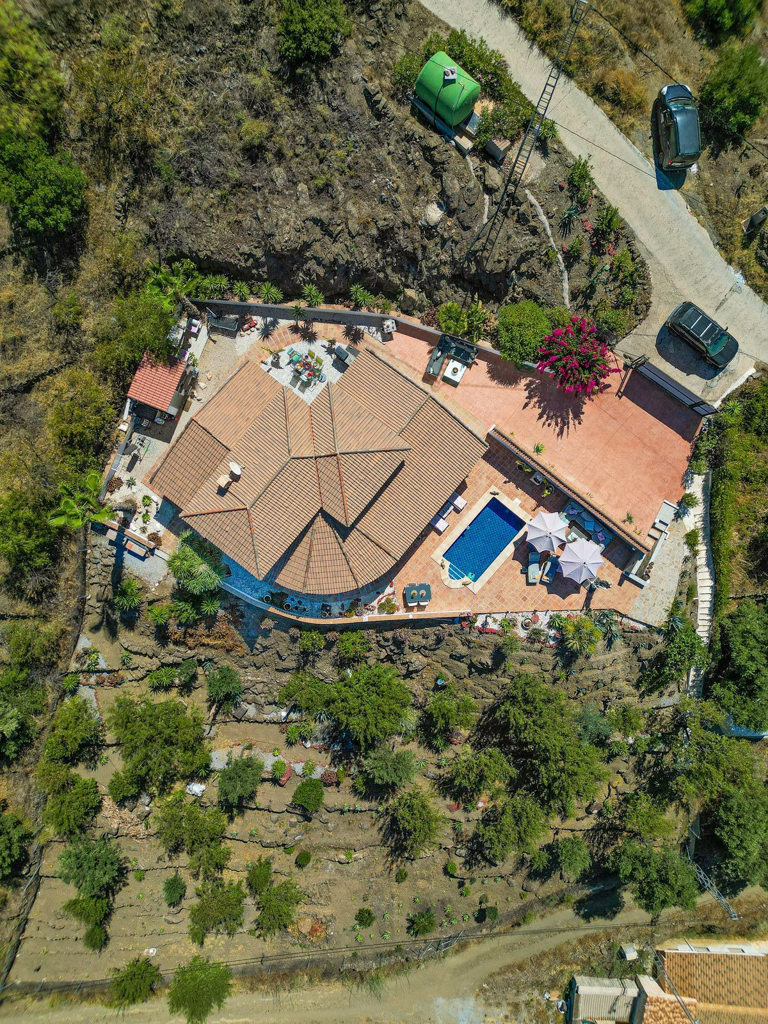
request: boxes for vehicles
[661,299,741,369]
[659,86,702,165]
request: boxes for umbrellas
[527,513,567,553]
[558,540,603,584]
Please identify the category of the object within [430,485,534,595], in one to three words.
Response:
swimming pool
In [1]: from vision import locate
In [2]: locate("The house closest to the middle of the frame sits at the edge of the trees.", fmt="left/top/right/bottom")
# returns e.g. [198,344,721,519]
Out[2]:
[149,348,489,594]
